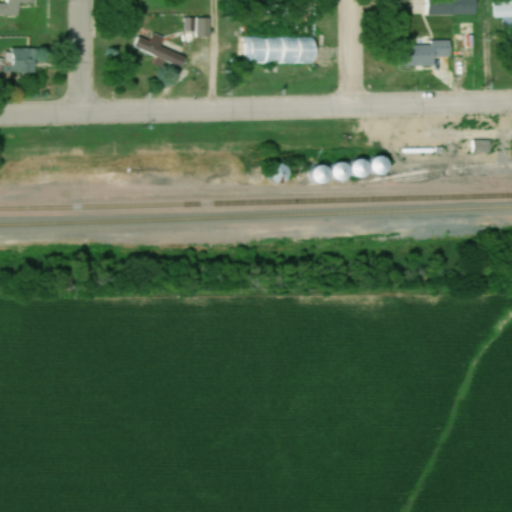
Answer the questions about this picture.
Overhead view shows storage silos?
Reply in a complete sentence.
Yes, this view includes a storage silo.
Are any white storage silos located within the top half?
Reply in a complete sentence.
Yes, the scene does show a white storage silo within the top half.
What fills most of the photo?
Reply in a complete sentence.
Most of the picture is covered by farmland.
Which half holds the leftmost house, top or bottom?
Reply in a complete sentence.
The leftmost house sits in the top half of the picture.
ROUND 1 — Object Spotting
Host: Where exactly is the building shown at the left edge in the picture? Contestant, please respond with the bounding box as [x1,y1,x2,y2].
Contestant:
[2,48,52,74]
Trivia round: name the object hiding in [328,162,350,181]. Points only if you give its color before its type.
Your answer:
white silo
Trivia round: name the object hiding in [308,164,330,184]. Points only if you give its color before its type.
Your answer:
white silo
